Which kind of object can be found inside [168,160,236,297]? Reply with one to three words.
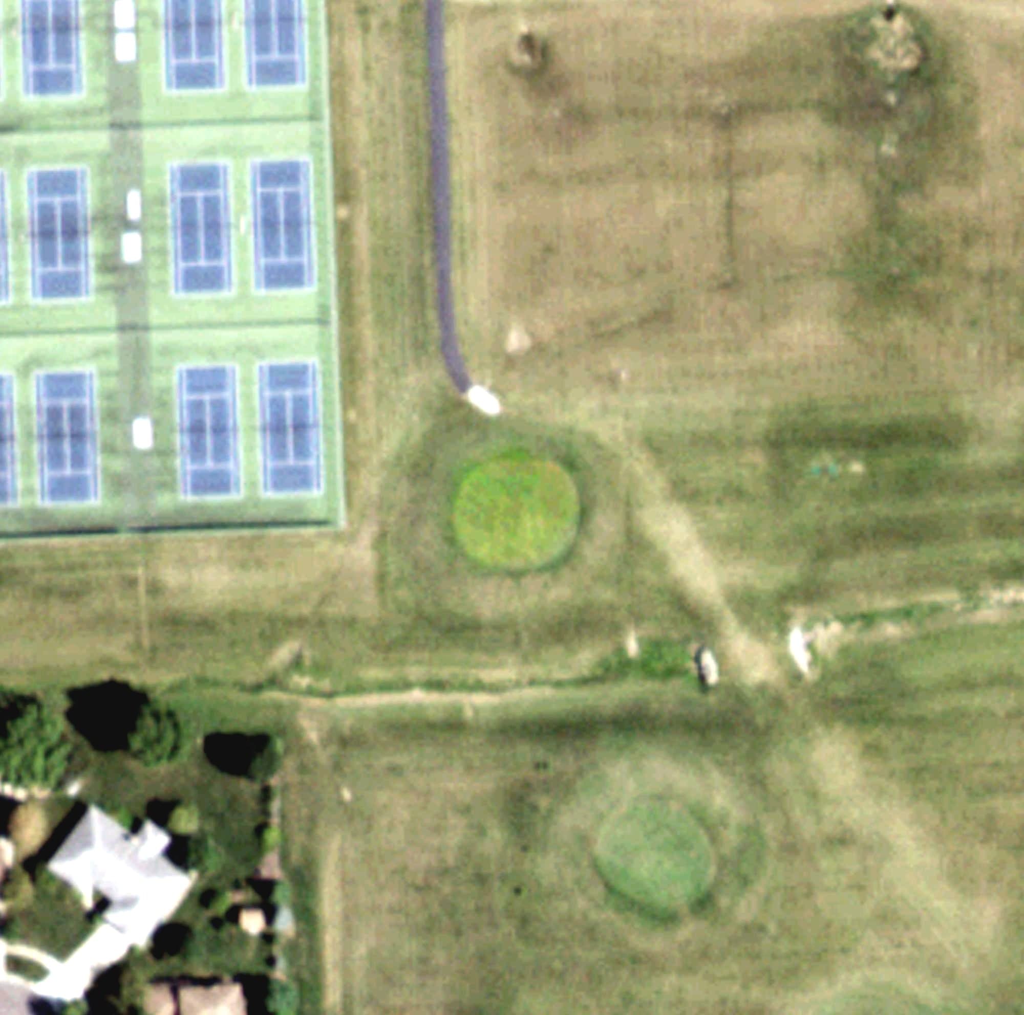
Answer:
tennis court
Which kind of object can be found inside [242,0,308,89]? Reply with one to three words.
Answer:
tennis court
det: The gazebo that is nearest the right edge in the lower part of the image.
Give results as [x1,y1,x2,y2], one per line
[237,908,265,939]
